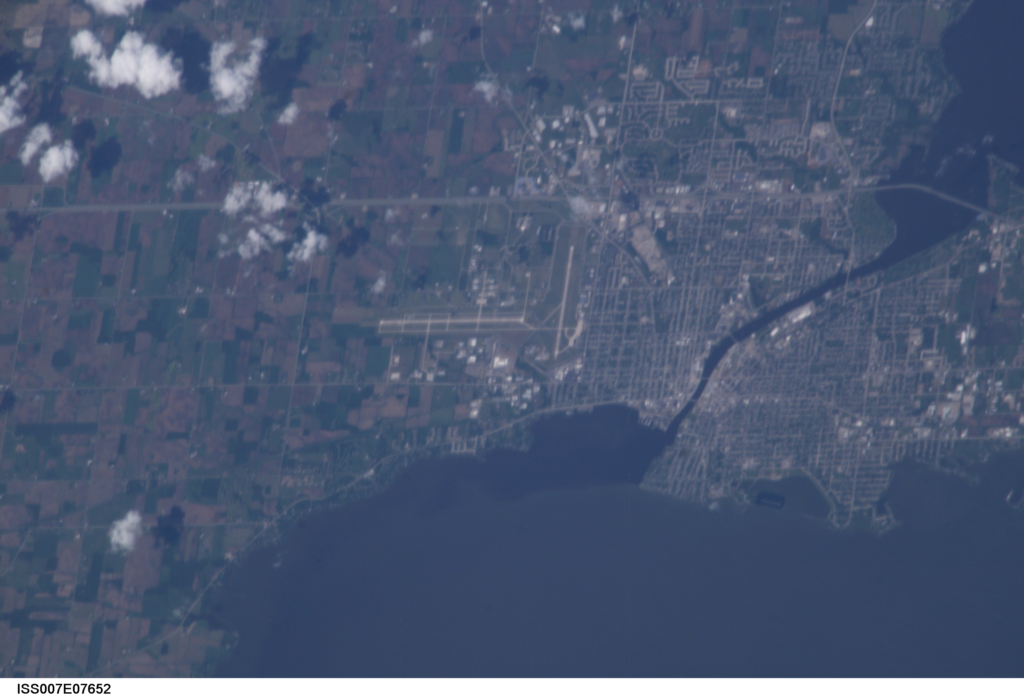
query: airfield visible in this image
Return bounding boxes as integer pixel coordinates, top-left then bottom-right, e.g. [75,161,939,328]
[378,228,586,370]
